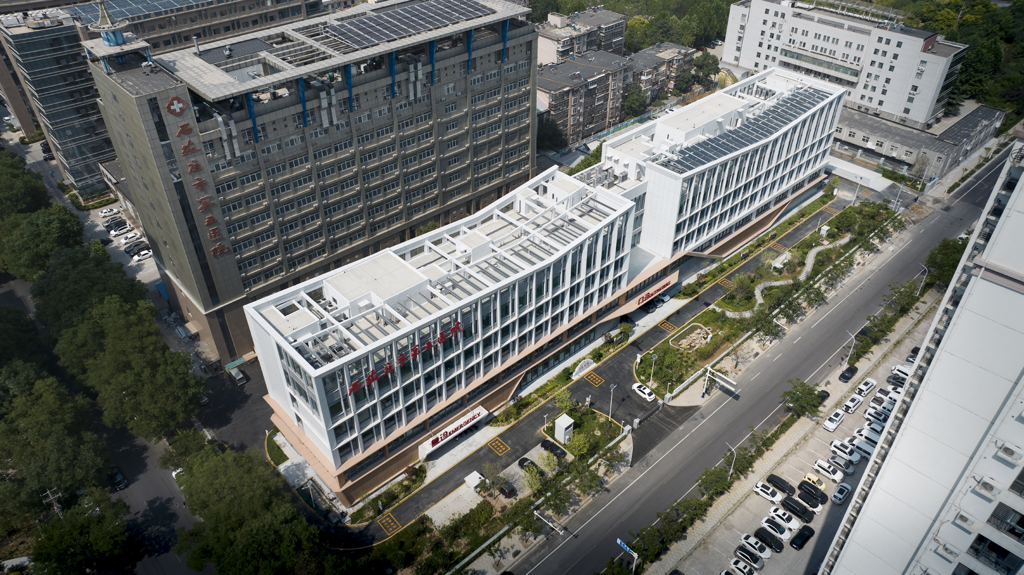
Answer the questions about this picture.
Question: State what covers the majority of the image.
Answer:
buildings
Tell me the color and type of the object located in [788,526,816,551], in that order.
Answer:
black car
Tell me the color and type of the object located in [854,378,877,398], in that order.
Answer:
white car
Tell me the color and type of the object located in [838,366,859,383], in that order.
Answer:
black car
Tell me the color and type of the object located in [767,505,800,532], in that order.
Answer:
white car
